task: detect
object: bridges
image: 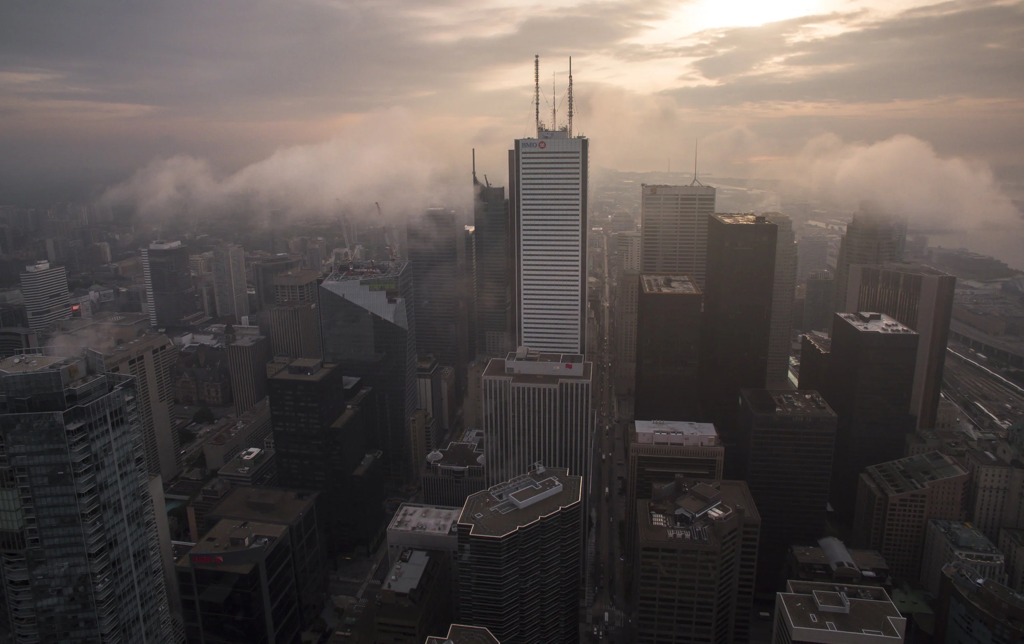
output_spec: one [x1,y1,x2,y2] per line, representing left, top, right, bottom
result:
[947,327,1024,368]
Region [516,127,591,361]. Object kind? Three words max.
building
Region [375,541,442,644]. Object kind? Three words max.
building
